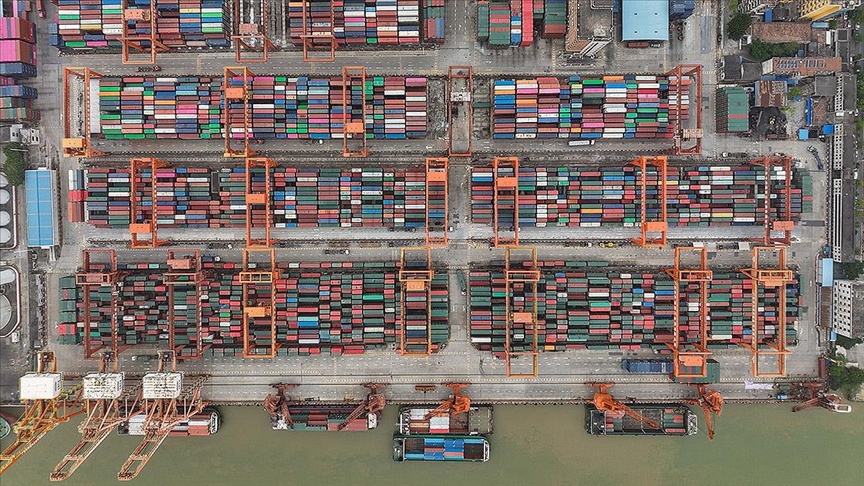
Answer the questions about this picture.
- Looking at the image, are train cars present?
No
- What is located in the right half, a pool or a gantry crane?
gantry crane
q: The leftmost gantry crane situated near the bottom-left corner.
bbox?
[0,350,95,477]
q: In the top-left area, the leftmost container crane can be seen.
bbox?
[60,66,111,158]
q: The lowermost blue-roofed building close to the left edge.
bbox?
[24,166,66,249]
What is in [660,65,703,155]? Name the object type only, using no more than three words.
container crane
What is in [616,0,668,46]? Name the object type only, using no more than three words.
building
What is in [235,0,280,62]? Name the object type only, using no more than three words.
container crane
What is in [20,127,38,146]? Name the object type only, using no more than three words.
house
